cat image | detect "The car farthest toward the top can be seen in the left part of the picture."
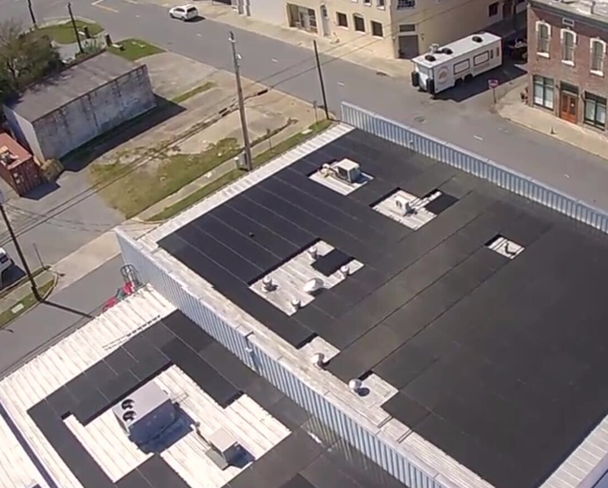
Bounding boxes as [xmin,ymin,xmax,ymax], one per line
[170,8,198,21]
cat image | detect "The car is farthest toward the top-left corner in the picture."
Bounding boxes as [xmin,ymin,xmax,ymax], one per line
[60,46,84,62]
